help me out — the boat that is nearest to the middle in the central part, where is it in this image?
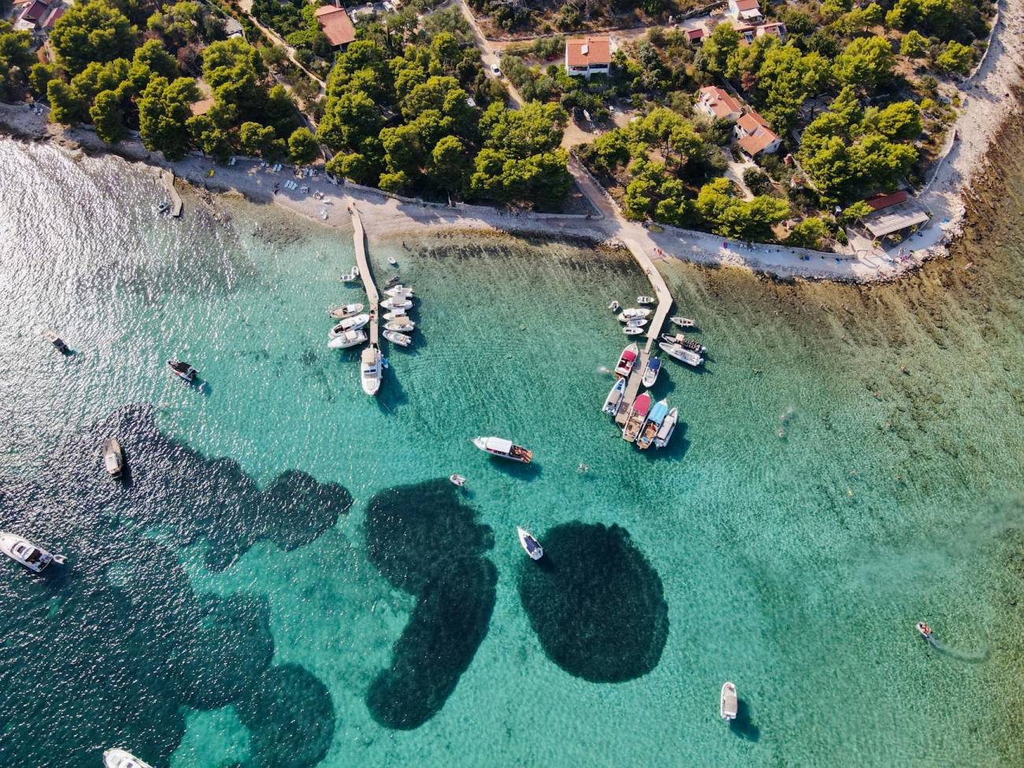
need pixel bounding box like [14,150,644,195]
[468,436,534,464]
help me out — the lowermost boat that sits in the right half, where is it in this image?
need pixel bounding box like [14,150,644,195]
[721,683,738,720]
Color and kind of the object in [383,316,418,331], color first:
white boat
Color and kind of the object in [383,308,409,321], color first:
white boat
